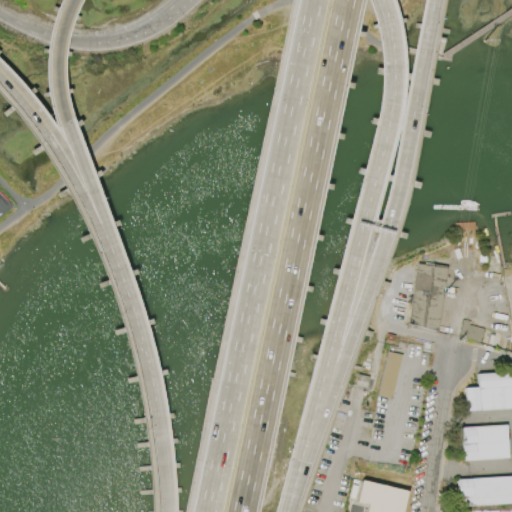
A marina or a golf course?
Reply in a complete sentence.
What you see here is a marina.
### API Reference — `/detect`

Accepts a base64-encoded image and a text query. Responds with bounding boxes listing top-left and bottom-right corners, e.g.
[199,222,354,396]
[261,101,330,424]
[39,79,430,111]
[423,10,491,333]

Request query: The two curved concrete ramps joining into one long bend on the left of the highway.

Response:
[0,0,182,512]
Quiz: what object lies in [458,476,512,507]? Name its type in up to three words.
building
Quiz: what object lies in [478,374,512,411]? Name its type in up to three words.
building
